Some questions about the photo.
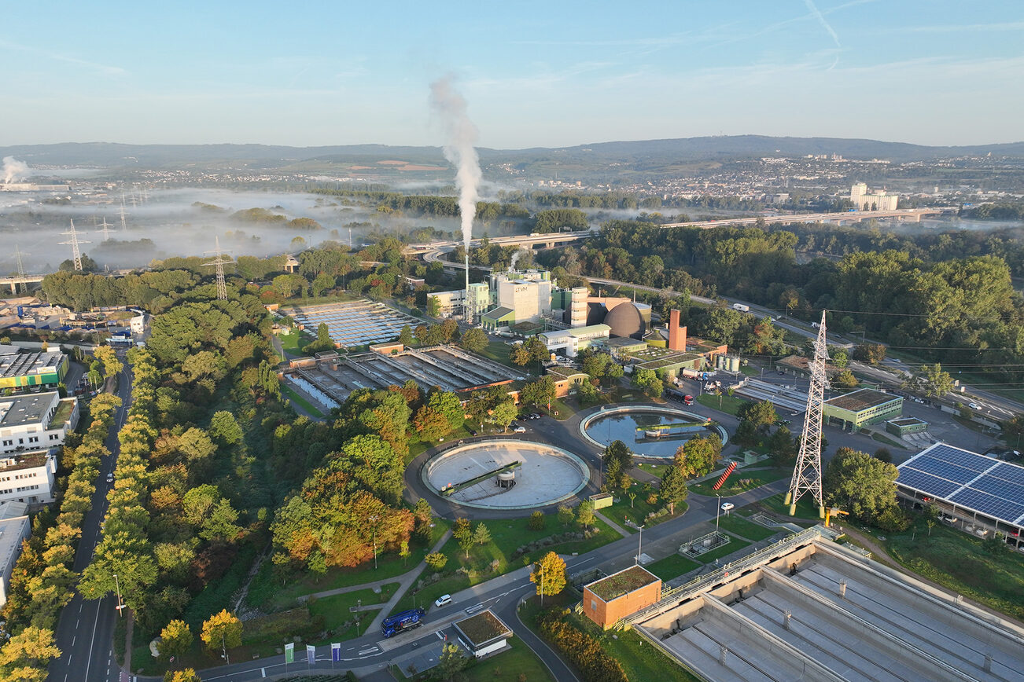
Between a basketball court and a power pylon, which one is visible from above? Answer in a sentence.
There is a power pylon in the scene.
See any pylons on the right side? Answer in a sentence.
Yes, the scene does show a pylon on the right side.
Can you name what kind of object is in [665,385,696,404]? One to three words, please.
vehicle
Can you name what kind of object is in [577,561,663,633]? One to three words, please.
building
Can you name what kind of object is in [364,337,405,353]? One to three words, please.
house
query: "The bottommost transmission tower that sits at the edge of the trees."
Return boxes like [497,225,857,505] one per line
[786,311,843,518]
